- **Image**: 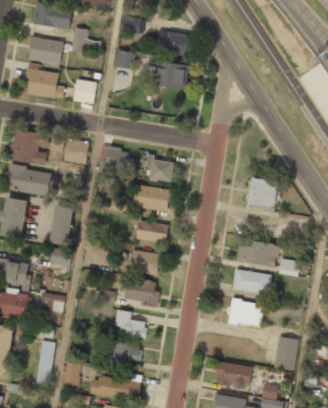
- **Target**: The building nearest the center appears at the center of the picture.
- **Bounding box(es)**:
[138,186,170,212]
